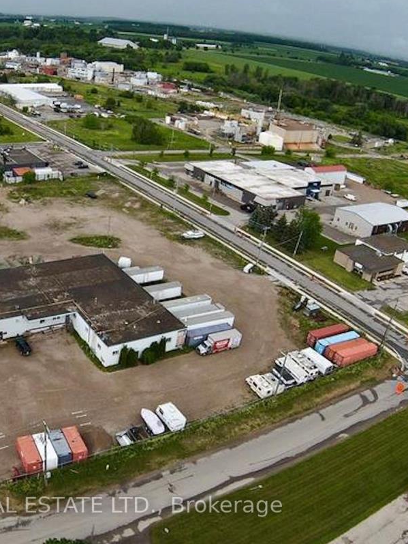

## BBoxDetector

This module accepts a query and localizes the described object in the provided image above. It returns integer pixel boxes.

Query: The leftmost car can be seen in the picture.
[15,334,31,352]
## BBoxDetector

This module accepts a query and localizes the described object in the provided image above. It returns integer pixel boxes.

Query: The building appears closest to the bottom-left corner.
[0,254,186,367]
